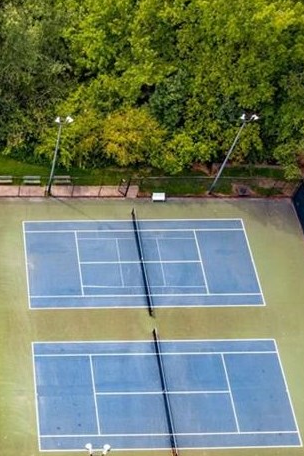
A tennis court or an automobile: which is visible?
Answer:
tennis court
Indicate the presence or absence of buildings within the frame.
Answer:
No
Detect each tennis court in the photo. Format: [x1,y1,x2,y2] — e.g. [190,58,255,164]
[32,340,301,450]
[22,218,264,308]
